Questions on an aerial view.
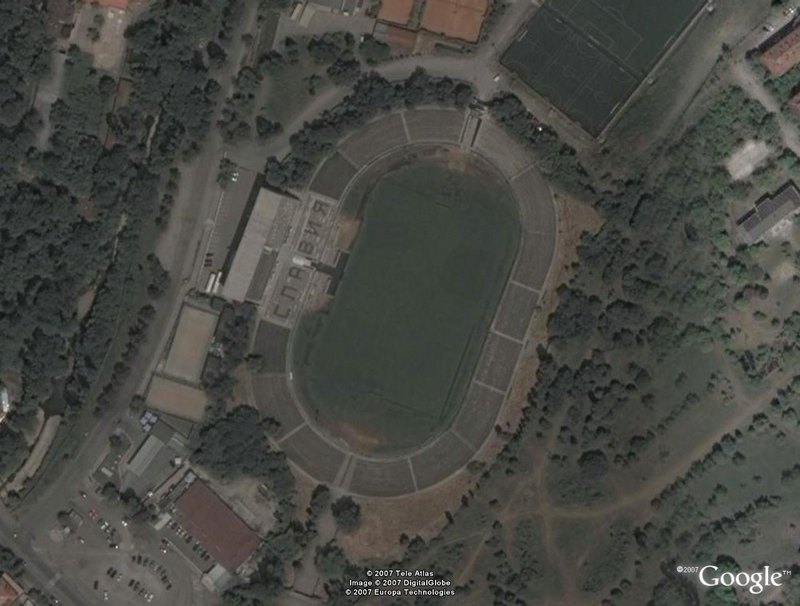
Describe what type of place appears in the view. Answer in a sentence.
The area seen from above is a sports ground.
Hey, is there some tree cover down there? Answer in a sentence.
Yes, the picture does contain tree cover.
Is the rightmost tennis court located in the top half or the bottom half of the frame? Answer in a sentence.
The top half of the photo is where the rightmost tennis court is.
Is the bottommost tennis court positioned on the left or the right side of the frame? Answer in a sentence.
It is on the left.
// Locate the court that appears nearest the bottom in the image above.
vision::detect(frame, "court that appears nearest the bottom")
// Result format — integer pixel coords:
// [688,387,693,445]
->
[145,376,205,421]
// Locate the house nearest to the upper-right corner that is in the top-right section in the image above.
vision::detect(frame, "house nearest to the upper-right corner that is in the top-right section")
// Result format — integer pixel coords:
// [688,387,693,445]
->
[763,30,800,74]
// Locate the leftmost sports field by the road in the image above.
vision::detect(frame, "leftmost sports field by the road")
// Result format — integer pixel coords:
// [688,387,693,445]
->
[289,143,522,458]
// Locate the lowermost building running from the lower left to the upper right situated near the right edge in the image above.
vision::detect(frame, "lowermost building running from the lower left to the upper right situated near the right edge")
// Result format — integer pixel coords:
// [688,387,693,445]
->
[738,187,800,245]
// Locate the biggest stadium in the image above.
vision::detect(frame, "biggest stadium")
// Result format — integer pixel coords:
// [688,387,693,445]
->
[248,99,560,500]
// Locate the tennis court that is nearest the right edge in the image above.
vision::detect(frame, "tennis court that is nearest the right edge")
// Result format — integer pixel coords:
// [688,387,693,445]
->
[420,0,486,41]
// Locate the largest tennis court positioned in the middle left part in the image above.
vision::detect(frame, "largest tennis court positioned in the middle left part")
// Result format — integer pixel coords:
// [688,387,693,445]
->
[165,305,216,383]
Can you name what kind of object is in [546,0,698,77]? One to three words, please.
soccer field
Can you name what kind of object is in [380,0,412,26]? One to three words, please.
tennis court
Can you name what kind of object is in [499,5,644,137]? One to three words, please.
soccer field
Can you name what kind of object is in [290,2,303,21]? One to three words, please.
vehicle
